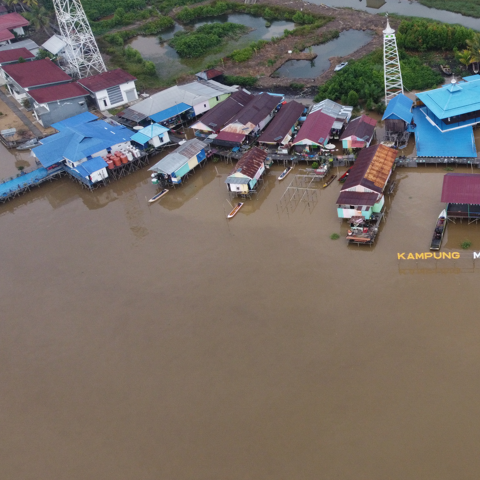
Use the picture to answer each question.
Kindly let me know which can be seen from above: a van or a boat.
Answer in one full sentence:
This aerial view contains a boat.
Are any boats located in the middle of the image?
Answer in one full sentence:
Yes, a boat can be seen in the middle of the image.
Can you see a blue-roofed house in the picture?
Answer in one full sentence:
Yes, you can see a blue-roofed house in this photo.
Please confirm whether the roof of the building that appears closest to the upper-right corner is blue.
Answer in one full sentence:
Yes, the roof of the building that appears closest to the upper-right corner is indeed blue.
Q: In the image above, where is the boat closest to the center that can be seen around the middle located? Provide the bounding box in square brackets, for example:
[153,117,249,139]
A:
[227,201,245,219]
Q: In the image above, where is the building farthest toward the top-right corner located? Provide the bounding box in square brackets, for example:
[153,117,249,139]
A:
[415,65,480,135]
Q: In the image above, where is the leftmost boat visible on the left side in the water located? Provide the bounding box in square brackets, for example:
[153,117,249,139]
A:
[147,190,170,203]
